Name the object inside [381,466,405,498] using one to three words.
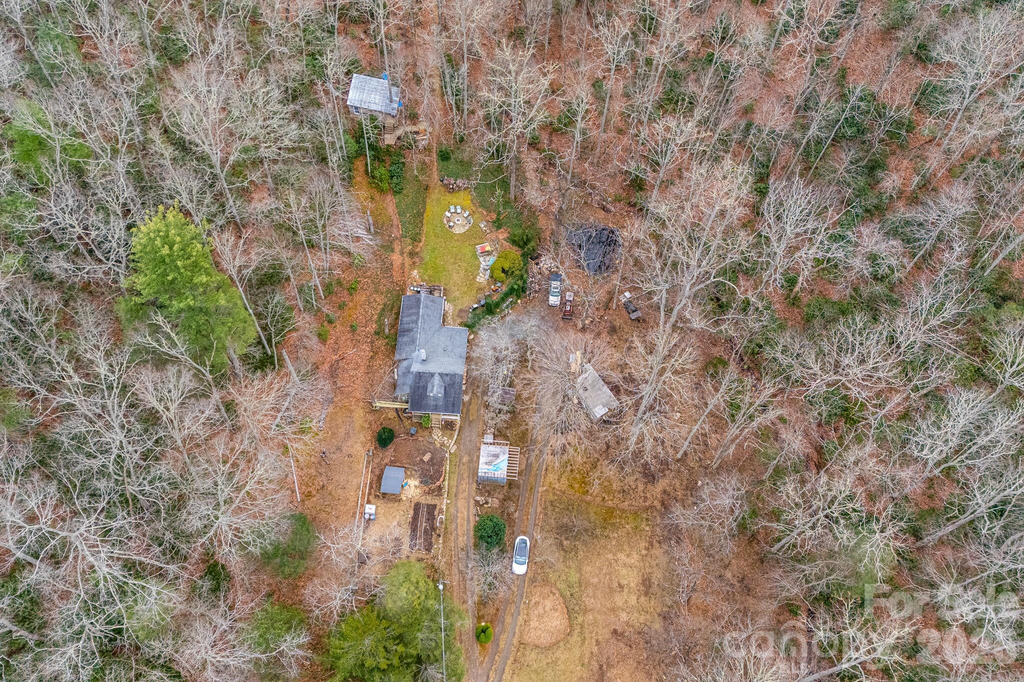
shed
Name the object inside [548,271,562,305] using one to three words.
vehicle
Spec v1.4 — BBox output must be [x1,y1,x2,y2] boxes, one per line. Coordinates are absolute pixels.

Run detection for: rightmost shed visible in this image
[576,368,619,424]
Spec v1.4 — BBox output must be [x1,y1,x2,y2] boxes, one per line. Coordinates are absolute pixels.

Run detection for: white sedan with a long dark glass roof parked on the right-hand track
[512,535,530,574]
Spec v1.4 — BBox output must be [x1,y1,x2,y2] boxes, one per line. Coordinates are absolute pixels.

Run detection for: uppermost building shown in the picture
[347,73,400,124]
